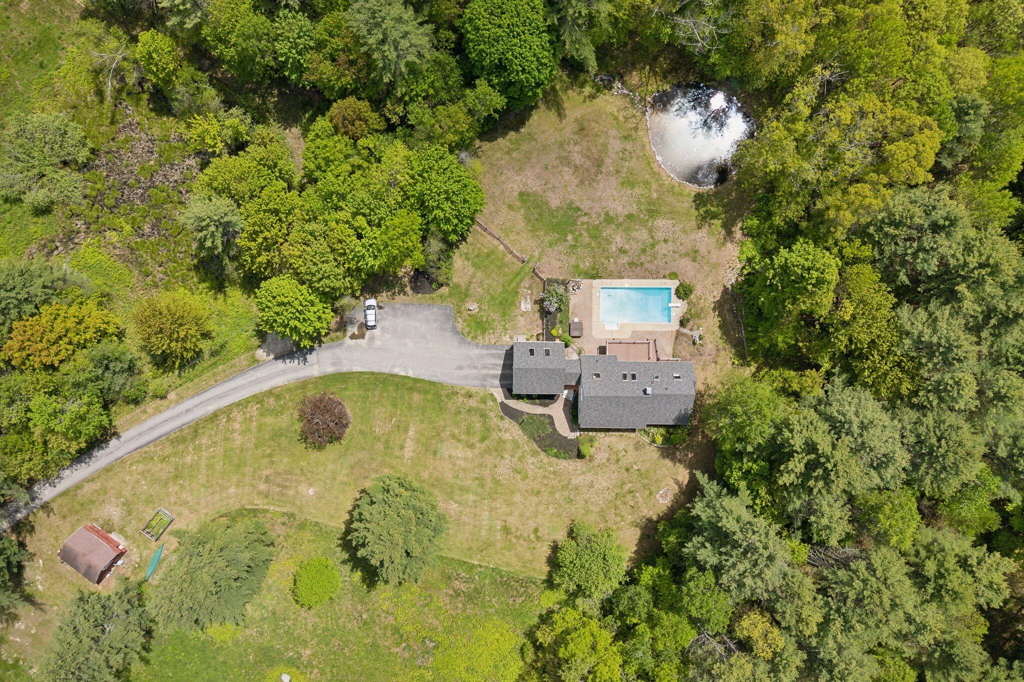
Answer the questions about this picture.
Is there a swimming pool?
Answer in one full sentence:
Yes, this view includes a swimming pool.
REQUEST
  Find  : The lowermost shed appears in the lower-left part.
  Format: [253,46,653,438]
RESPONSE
[58,521,129,590]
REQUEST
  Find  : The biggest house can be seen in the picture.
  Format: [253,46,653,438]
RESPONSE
[512,341,694,428]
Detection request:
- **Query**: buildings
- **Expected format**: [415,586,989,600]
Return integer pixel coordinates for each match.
[58,521,129,590]
[512,341,694,428]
